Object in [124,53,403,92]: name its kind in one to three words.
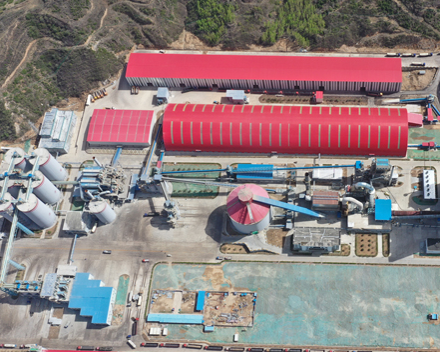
building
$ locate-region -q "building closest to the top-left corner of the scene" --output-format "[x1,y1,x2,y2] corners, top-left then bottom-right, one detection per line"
[39,110,80,155]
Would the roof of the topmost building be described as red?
Yes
